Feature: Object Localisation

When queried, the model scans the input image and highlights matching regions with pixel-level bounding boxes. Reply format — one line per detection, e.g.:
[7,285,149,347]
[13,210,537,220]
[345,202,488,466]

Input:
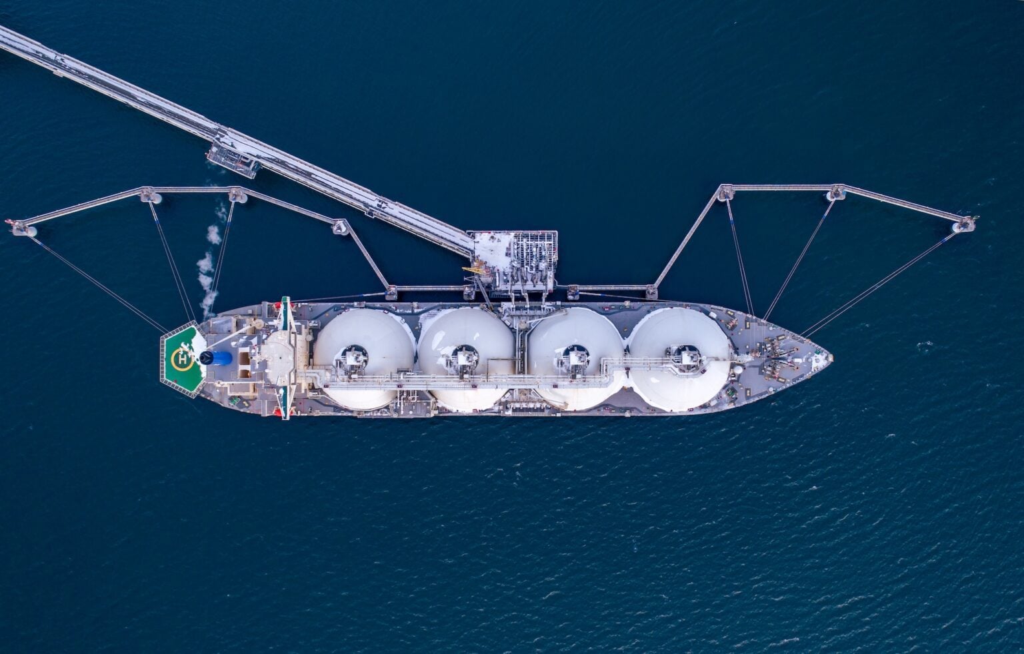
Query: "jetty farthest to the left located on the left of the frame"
[0,24,467,254]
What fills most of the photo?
water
